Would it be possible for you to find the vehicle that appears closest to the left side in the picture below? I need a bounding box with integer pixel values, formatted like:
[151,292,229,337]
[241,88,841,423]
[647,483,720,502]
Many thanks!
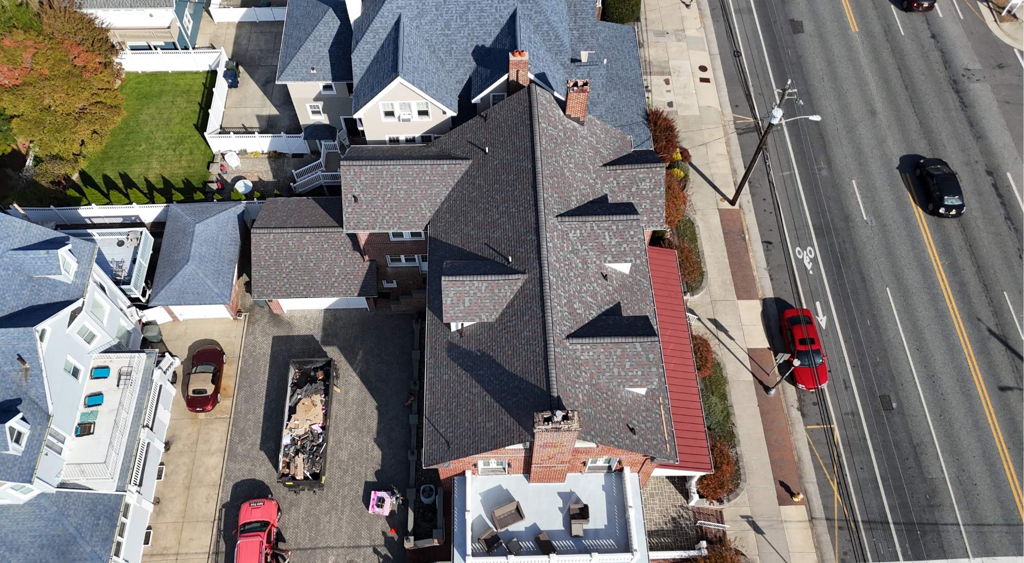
[183,341,228,416]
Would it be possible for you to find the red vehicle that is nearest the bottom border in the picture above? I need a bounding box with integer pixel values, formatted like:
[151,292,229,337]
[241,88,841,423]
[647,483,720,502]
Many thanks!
[236,499,301,563]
